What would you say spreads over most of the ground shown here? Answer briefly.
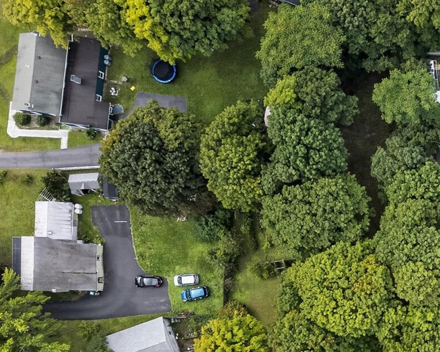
trees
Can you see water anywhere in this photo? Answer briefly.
No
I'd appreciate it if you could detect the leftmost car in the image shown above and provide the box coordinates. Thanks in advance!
[132,274,161,288]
